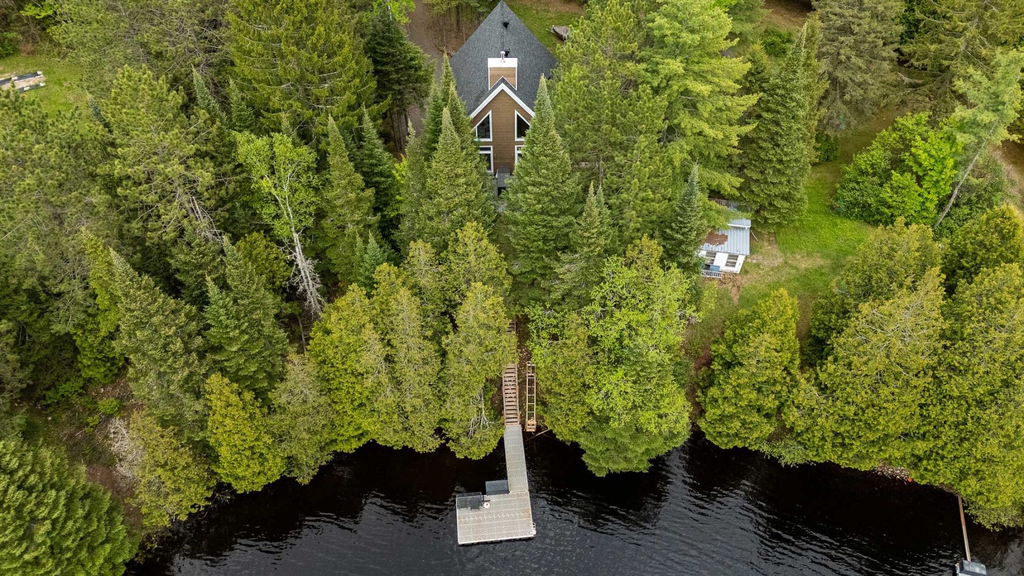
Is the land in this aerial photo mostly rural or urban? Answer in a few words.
rural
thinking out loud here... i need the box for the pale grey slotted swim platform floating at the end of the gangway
[455,491,537,545]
